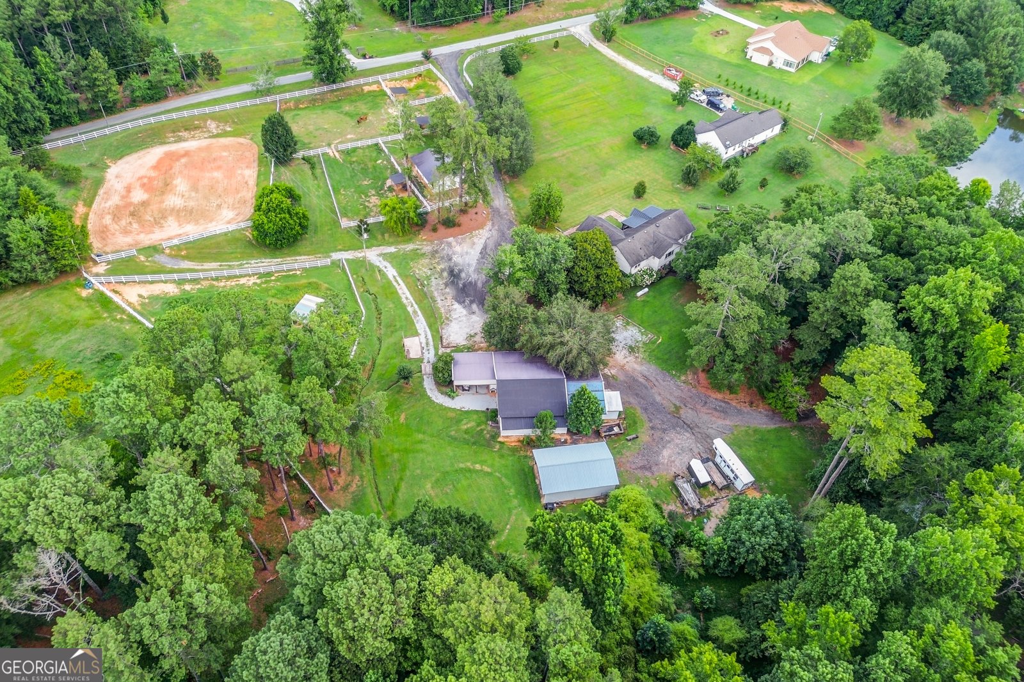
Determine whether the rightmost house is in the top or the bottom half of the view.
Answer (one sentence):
It is in the top half that the rightmost house appears.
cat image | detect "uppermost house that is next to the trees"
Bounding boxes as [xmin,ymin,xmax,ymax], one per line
[751,15,847,72]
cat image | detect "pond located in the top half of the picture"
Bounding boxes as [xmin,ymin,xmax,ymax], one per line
[952,111,1024,215]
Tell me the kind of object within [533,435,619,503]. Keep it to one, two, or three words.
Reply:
shed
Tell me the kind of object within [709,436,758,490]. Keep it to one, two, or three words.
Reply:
trailer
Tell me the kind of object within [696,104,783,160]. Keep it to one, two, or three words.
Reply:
house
